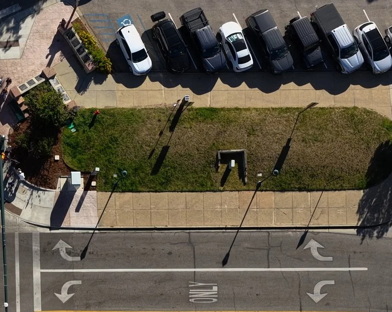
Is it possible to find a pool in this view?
No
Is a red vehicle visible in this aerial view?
No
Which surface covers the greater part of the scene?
paved ground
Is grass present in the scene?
Yes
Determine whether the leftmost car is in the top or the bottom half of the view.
top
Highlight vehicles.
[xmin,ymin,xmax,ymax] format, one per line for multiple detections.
[289,12,324,71]
[247,8,292,77]
[219,21,253,74]
[182,7,224,76]
[154,14,191,76]
[355,22,392,77]
[116,24,151,78]
[312,2,364,77]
